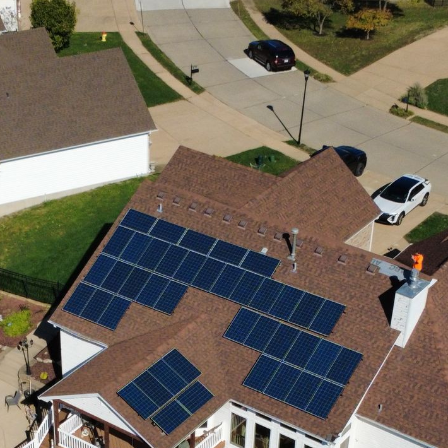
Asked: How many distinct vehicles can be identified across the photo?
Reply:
three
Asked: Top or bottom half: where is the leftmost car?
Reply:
top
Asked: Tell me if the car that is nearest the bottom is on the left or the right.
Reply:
right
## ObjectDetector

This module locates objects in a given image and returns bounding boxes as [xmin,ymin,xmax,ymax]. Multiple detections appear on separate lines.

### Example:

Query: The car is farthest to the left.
[248,38,297,71]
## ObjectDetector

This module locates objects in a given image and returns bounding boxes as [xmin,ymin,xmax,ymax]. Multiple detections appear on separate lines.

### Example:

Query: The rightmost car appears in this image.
[371,175,430,225]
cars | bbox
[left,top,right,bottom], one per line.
[326,147,365,177]
[371,175,430,225]
[248,38,297,71]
